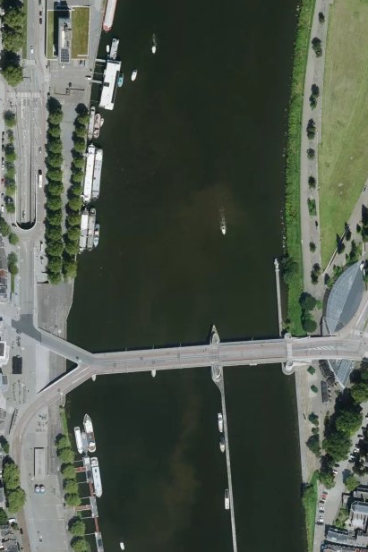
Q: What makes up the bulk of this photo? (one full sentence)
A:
The bulk of the photo consists of water.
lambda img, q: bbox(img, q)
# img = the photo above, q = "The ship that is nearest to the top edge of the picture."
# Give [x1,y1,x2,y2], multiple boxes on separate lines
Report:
[104,0,117,32]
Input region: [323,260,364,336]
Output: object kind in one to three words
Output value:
building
